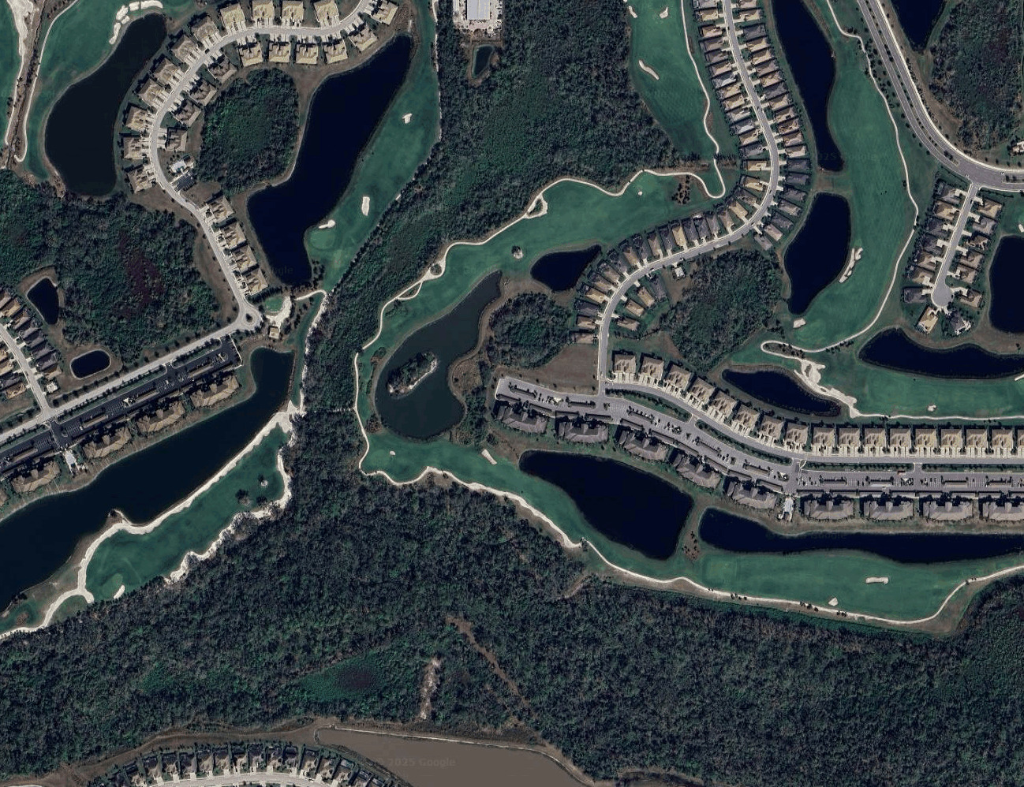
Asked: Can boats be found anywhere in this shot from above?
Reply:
No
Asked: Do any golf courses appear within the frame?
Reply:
Yes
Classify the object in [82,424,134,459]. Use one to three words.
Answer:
building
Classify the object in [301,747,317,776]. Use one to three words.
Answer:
house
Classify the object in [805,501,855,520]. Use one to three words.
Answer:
building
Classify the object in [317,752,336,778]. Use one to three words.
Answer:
house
